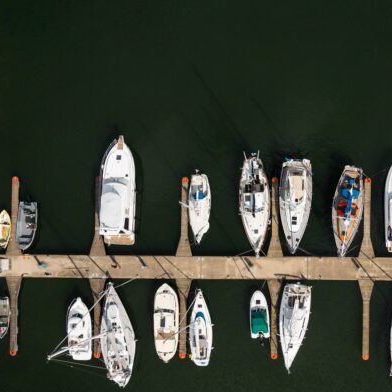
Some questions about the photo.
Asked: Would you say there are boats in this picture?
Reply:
Yes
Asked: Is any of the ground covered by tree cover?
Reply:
No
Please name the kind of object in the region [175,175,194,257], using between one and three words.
pier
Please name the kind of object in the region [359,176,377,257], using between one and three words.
pier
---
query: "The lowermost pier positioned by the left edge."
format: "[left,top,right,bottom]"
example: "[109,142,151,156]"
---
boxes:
[5,279,23,356]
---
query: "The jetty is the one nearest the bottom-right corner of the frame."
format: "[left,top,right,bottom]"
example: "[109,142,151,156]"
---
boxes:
[357,281,375,360]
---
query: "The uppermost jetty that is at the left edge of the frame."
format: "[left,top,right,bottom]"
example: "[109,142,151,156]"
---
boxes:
[5,176,23,255]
